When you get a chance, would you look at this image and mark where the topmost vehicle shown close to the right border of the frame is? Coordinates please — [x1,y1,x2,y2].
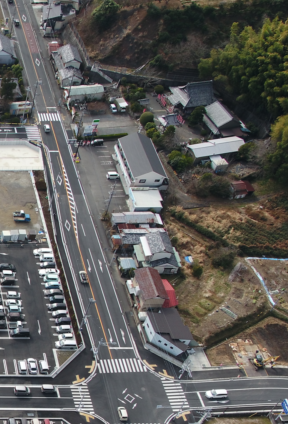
[246,352,277,369]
